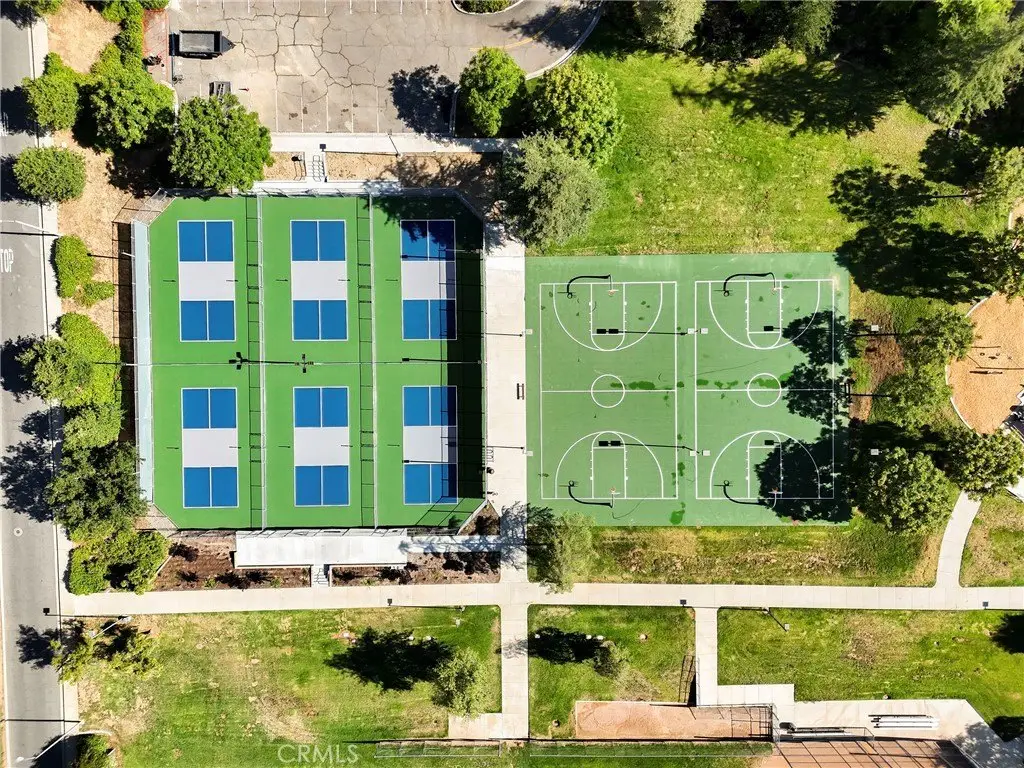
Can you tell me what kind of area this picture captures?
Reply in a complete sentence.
The area seen from above is a sports ground.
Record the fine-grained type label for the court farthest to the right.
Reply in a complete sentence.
The court farthest to the right appears to be a basketball court.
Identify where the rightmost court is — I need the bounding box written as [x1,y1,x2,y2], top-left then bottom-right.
[686,253,851,525]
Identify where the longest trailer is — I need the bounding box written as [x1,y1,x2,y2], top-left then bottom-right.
[175,30,235,60]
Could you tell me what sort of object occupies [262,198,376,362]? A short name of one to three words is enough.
sports court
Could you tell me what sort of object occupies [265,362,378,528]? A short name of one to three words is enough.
sports court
